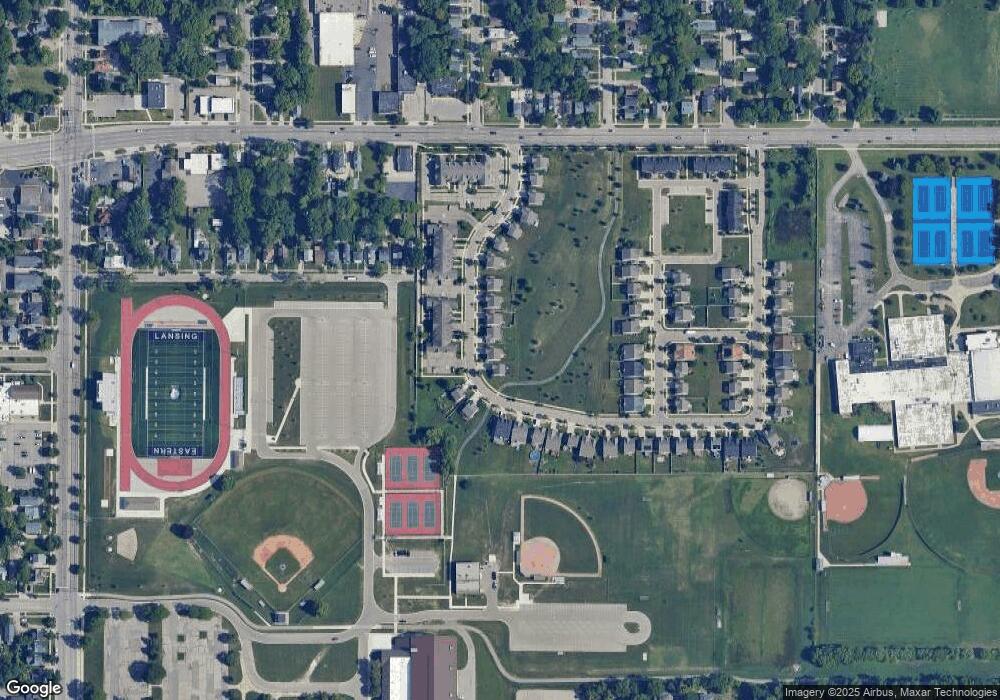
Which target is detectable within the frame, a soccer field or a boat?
soccer field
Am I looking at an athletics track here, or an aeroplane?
athletics track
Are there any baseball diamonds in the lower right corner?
Yes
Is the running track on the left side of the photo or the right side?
left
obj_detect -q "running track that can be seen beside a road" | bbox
[121,295,231,491]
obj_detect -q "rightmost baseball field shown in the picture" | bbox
[968,459,1000,509]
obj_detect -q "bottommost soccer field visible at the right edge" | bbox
[826,568,960,644]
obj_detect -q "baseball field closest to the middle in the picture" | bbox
[521,495,602,578]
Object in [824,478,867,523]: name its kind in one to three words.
baseball field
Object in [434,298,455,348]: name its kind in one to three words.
building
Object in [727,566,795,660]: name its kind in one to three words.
soccer field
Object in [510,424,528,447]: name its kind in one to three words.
house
